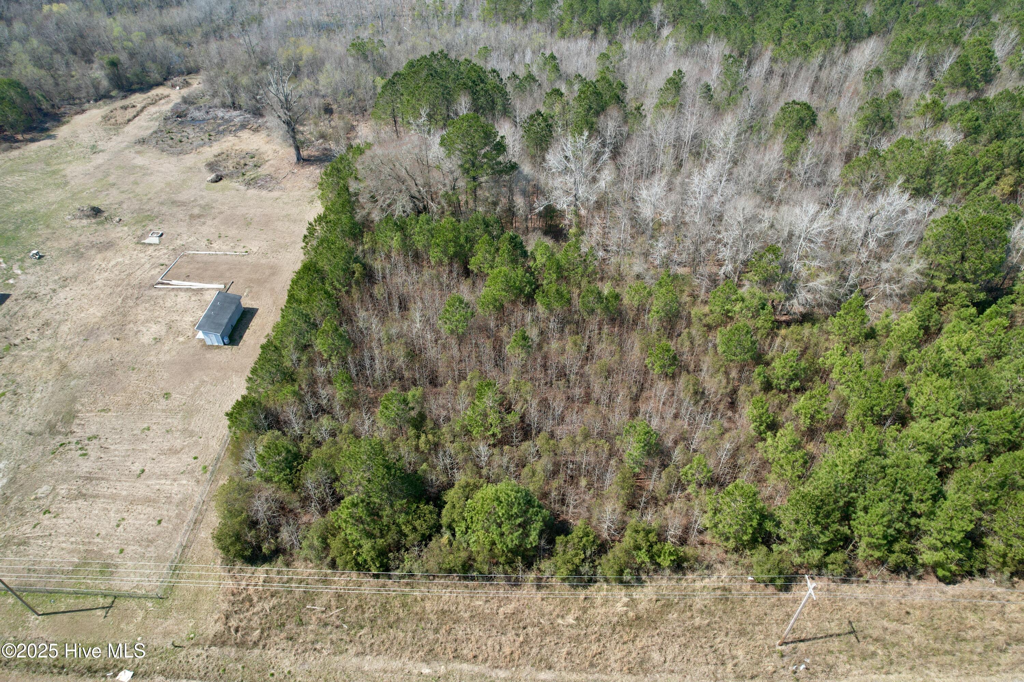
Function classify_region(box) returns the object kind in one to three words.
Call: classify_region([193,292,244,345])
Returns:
shed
